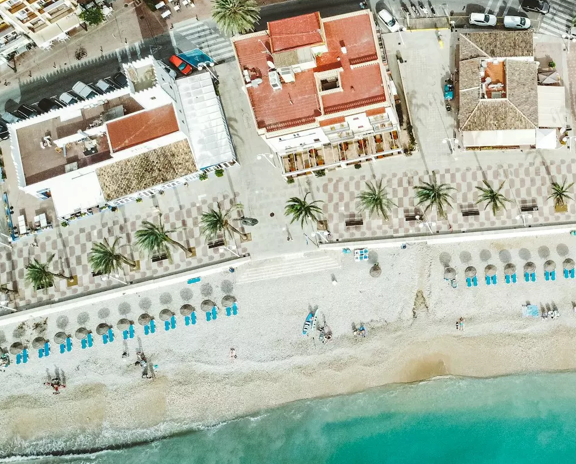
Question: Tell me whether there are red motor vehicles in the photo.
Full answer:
Yes, a red motor vehicle can be made out from above.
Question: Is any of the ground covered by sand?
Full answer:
Yes, there's sand in this view.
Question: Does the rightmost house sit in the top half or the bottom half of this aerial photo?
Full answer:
The top half of the photo is where the rightmost house is.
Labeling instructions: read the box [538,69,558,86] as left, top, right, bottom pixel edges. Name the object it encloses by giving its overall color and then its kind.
white umbrella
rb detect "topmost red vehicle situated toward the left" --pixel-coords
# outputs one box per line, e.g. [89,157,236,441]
[170,54,192,75]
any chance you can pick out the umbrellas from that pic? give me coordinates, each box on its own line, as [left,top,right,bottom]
[537,129,556,148]
[203,300,215,312]
[76,327,89,339]
[484,264,497,277]
[544,260,556,272]
[161,308,174,321]
[35,337,47,349]
[368,263,383,278]
[563,258,575,270]
[15,342,27,355]
[182,304,194,316]
[141,313,153,326]
[97,322,111,336]
[538,69,558,86]
[464,267,477,278]
[55,331,68,345]
[118,318,132,330]
[503,263,516,276]
[444,267,457,280]
[223,294,236,307]
[524,261,536,273]
[0,346,8,358]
